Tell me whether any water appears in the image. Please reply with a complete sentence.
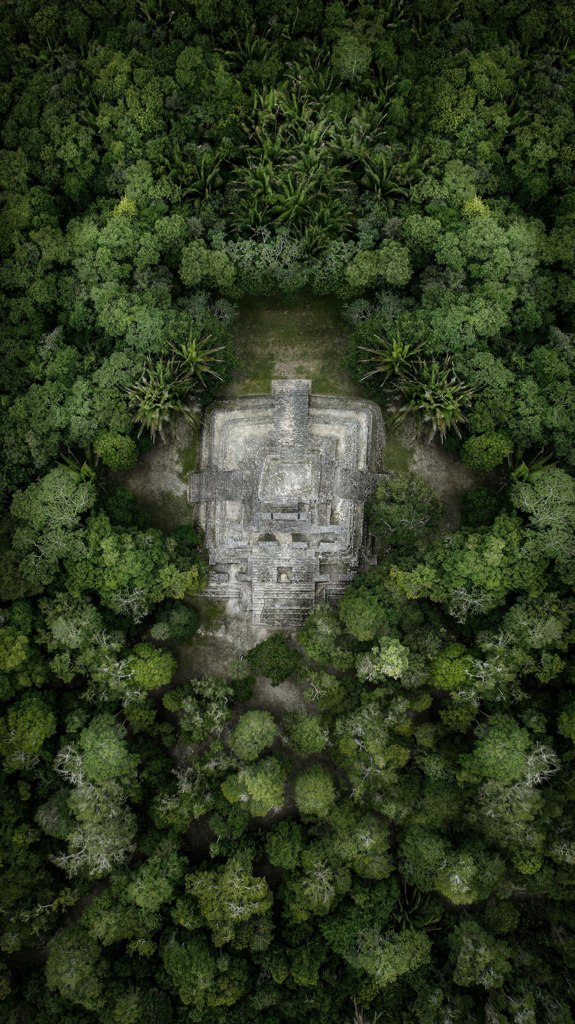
No, there's no water in this view.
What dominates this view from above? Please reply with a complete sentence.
The bulk of the photo consists of trees.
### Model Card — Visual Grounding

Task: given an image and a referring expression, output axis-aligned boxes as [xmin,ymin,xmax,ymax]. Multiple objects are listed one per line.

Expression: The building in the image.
[189,378,391,630]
